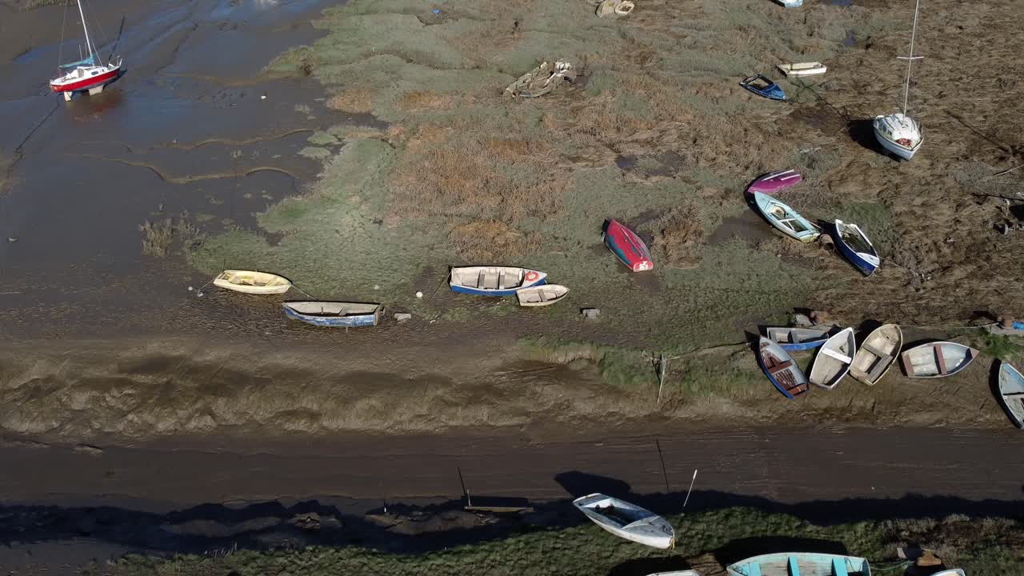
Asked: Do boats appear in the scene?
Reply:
Yes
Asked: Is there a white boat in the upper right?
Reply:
Yes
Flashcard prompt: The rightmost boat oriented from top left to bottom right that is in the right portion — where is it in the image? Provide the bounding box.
[836,223,882,269]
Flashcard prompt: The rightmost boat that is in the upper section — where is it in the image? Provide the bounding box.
[876,0,931,159]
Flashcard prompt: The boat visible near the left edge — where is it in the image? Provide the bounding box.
[45,0,121,99]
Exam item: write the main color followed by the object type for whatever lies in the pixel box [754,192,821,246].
white boat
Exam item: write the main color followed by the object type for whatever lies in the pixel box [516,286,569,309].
white boat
